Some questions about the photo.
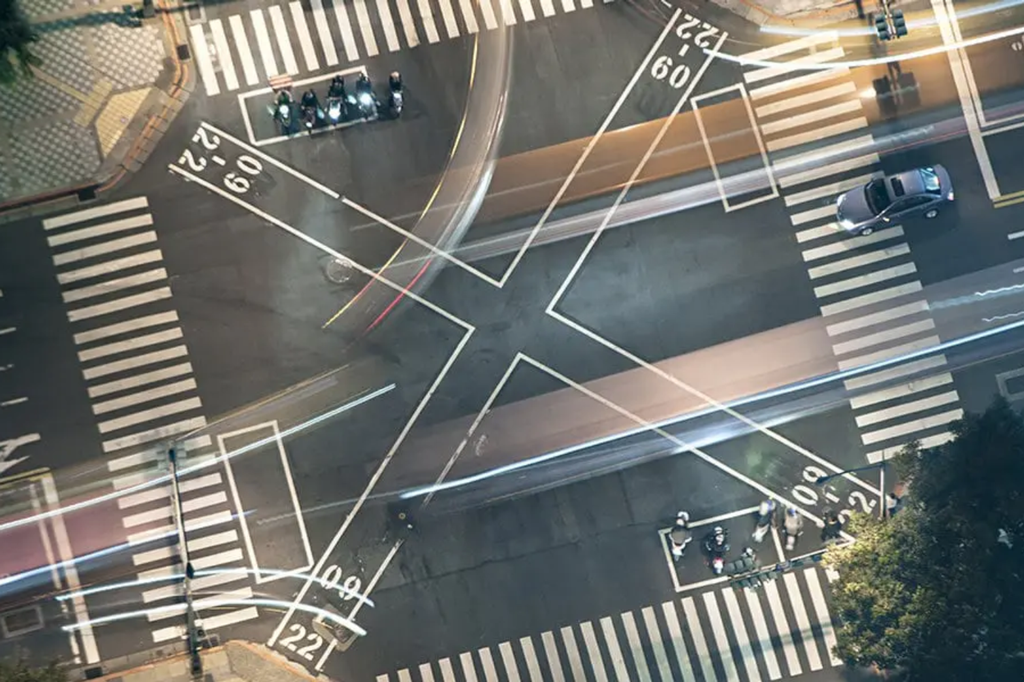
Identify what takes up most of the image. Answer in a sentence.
The largest share of the image is taken up by paved ground.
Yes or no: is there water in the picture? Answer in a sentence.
No, water can't be seen anywhere here.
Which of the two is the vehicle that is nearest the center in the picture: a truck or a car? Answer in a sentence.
The vehicle that is nearest the center can be classified as a car.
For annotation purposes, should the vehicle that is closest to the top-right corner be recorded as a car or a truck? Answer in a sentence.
I'd say the vehicle that is closest to the top-right corner is a car.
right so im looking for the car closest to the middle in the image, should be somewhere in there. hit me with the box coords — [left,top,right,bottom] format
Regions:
[453,157,574,228]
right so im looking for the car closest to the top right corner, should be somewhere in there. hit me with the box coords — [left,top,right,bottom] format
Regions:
[833,163,955,235]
